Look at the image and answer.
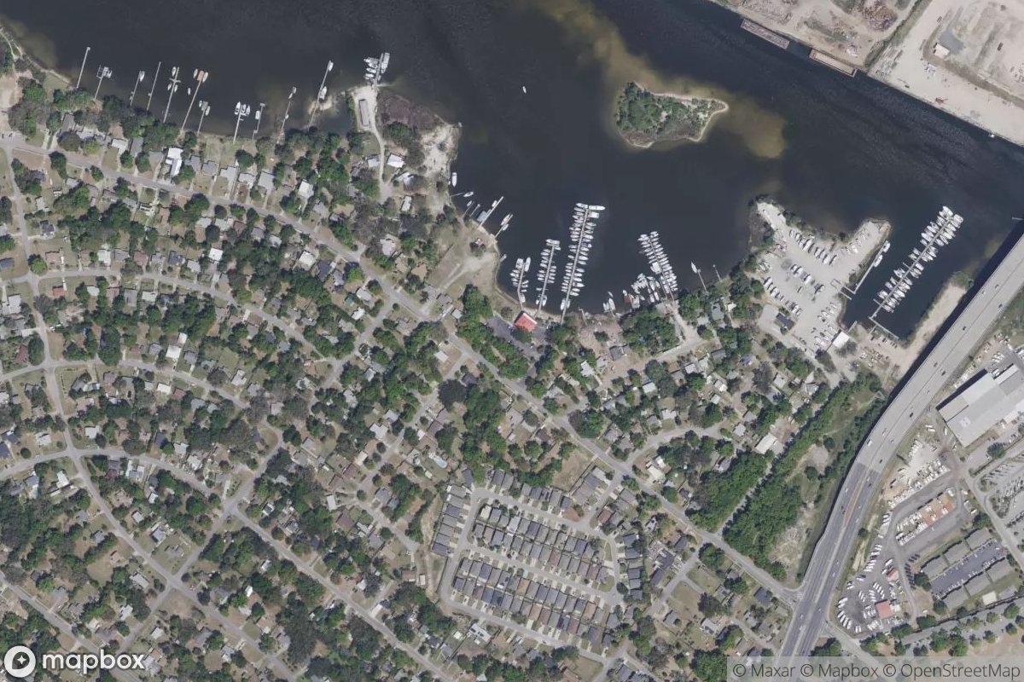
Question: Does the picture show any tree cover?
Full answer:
Yes, the picture does contain tree cover.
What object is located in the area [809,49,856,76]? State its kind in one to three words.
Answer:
ship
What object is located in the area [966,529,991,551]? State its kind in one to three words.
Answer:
building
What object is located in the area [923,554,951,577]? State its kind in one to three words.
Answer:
building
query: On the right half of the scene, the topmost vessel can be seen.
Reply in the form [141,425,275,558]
[741,19,790,49]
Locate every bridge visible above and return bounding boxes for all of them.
[853,236,1024,480]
